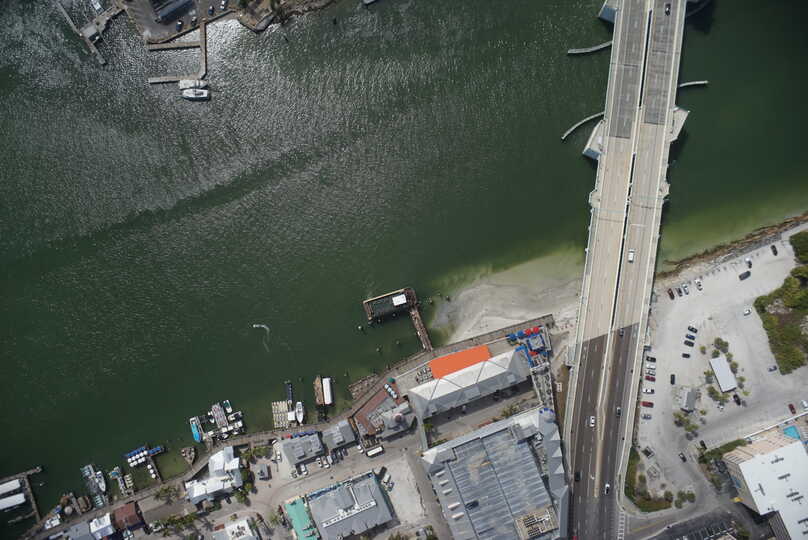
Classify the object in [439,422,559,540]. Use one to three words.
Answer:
building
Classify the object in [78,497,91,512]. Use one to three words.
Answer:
boat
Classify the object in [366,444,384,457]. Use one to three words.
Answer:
vehicle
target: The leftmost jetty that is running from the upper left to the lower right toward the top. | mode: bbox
[55,0,107,66]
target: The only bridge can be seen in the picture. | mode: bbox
[560,0,709,338]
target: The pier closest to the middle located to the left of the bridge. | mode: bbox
[363,287,432,351]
